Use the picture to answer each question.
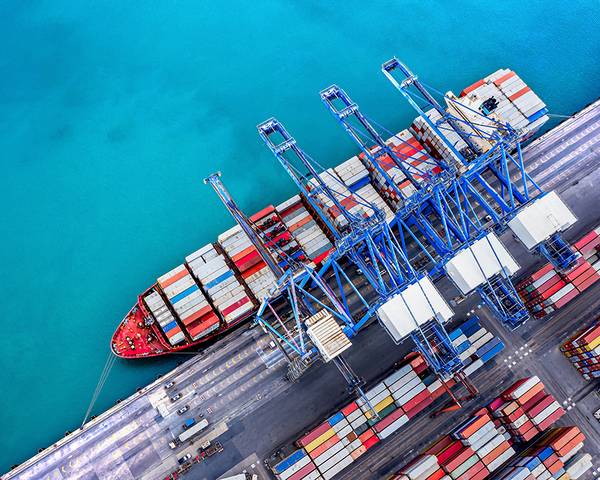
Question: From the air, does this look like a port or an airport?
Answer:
port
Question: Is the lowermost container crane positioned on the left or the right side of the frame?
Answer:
right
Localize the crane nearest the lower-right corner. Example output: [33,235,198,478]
[401,348,482,425]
